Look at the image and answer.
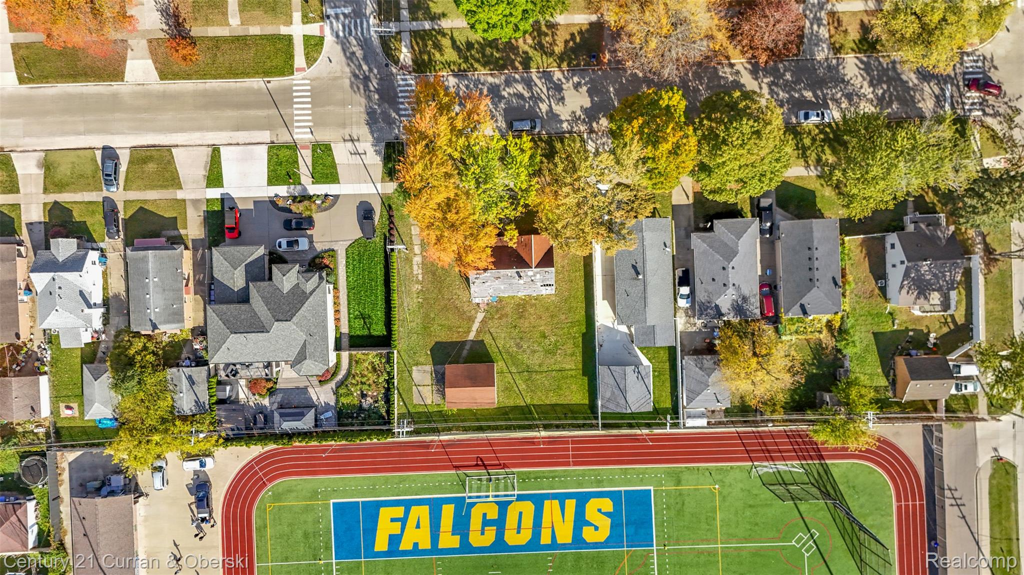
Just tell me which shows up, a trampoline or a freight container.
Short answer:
trampoline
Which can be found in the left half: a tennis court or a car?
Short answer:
car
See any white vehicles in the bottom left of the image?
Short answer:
Yes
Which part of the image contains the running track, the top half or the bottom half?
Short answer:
bottom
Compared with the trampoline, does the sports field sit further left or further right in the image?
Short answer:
to the right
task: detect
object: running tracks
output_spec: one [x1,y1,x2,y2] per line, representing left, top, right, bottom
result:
[219,425,930,575]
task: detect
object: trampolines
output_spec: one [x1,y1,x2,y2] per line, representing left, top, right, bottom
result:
[13,458,48,487]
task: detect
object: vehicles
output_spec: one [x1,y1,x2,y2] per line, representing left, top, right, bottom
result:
[949,362,984,378]
[276,236,309,251]
[102,158,120,190]
[102,206,120,238]
[509,116,541,133]
[759,199,776,239]
[194,479,213,520]
[151,458,170,492]
[282,216,315,231]
[182,455,215,471]
[950,380,981,395]
[360,211,375,240]
[967,78,1004,97]
[223,209,241,239]
[760,284,777,321]
[676,268,693,308]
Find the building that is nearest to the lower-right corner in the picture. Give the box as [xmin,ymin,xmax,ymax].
[895,357,954,402]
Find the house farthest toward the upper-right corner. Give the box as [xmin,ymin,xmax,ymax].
[887,214,965,314]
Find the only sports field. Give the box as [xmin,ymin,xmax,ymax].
[255,463,898,575]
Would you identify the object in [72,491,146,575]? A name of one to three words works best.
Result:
building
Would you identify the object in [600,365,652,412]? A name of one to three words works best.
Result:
building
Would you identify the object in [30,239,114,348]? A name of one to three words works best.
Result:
house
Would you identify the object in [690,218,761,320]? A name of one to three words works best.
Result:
house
